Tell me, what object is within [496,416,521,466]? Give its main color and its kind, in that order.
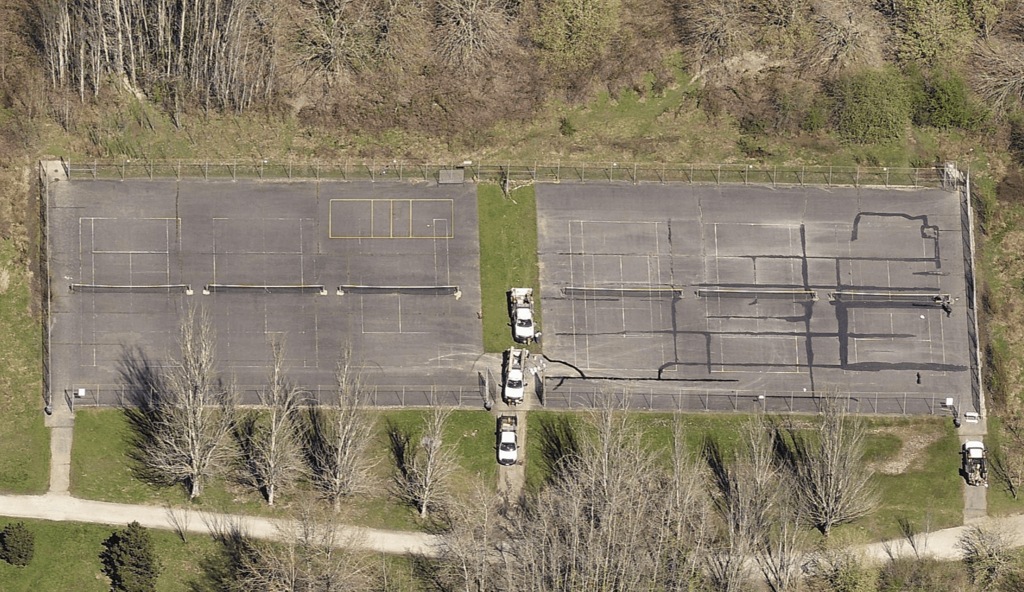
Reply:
white truck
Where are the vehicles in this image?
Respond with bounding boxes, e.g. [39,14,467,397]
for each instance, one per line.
[496,416,521,466]
[504,351,528,406]
[512,291,537,345]
[963,443,988,489]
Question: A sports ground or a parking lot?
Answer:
sports ground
